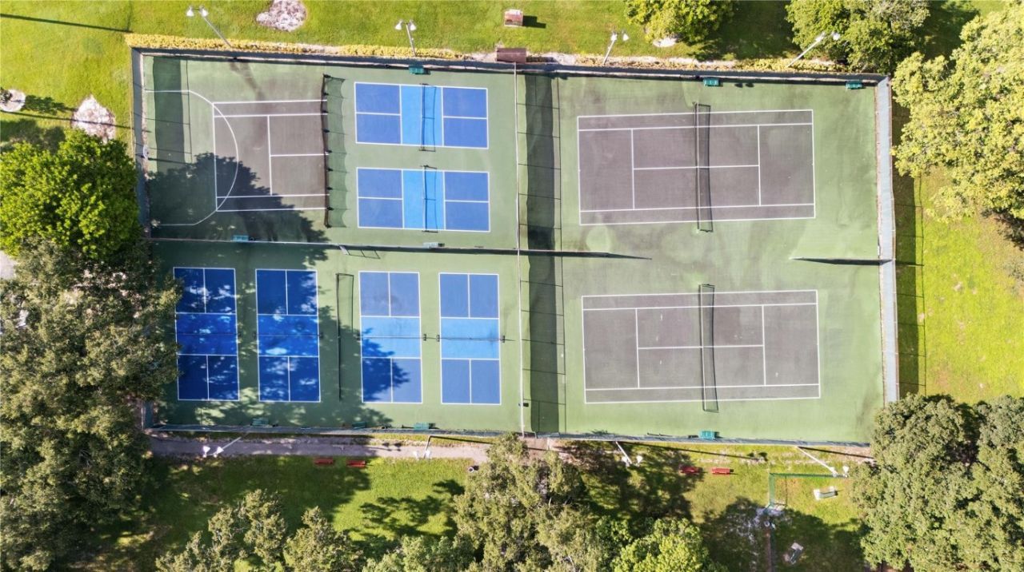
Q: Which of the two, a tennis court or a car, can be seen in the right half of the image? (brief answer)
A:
tennis court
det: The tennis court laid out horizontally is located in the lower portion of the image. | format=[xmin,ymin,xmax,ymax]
[582,290,821,403]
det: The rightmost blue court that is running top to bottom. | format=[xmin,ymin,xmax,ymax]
[439,273,501,405]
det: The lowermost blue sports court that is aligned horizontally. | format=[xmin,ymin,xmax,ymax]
[357,167,491,232]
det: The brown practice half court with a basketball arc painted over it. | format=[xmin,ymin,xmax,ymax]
[146,90,327,225]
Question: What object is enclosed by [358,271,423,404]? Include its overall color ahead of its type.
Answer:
blue sports court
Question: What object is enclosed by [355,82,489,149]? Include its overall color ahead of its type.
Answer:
blue sports court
